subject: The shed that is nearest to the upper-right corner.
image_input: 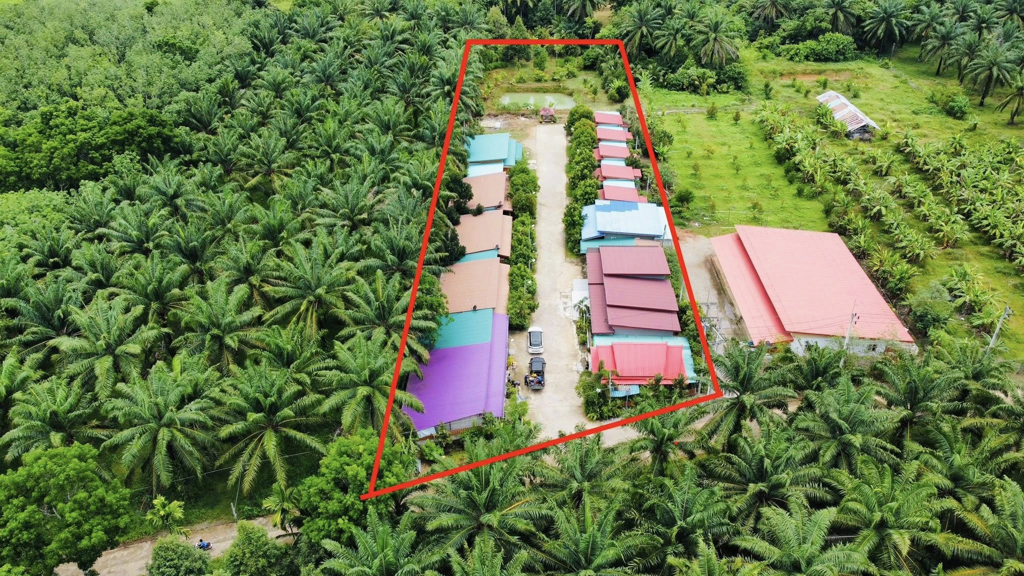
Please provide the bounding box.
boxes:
[812,91,876,142]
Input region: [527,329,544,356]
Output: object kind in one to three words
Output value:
car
